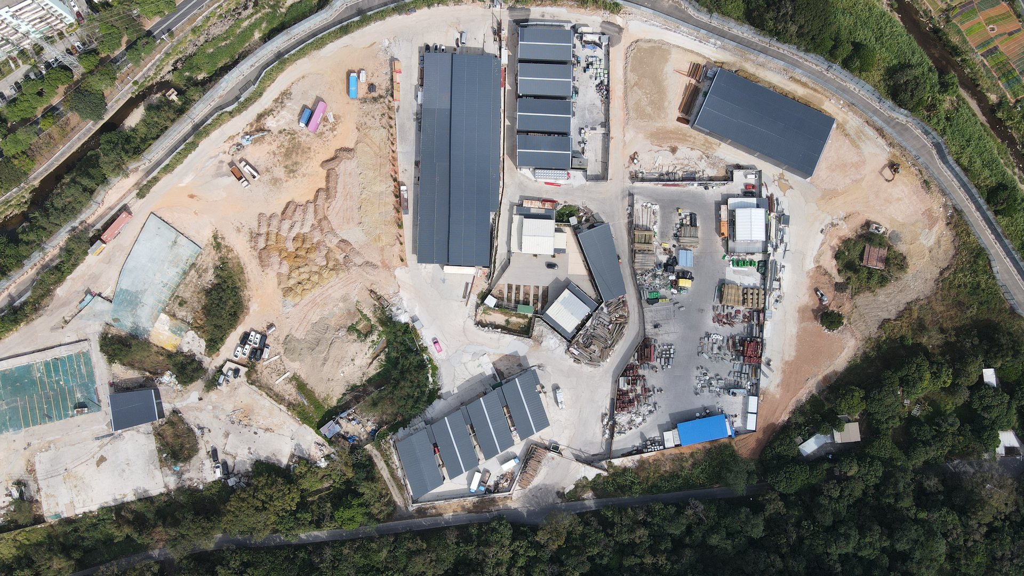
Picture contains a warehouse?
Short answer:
Yes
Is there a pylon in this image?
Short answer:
Yes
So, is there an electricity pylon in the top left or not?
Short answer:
Yes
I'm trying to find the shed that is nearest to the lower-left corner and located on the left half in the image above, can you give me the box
[109,389,164,431]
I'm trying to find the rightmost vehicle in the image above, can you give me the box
[878,162,905,177]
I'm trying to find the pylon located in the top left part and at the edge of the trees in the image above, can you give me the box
[22,33,87,80]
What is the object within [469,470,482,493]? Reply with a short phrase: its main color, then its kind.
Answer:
white vehicle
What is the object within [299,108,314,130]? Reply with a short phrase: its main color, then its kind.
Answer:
blue vehicle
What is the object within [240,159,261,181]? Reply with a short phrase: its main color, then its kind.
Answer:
white truck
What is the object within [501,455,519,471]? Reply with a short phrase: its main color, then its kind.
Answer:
white vehicle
